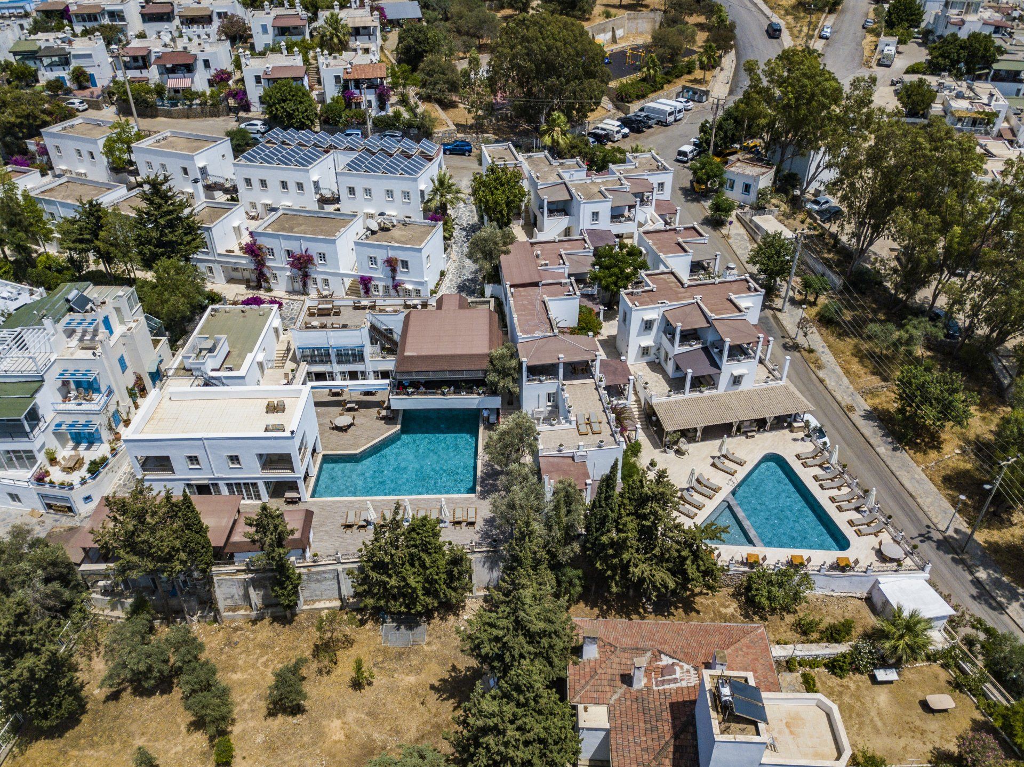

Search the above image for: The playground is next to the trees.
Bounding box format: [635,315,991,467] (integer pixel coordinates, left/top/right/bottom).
[604,47,701,84]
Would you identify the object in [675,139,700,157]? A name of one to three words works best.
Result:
car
